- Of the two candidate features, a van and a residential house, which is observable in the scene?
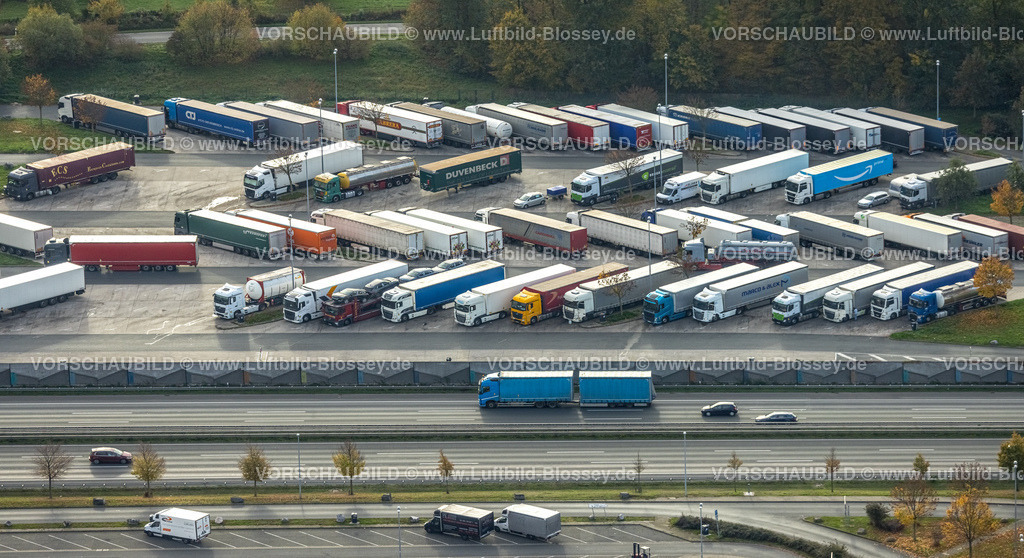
van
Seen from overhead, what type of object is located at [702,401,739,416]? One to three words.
car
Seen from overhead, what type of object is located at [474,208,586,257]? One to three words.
truck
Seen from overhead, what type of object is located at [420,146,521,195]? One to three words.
trailer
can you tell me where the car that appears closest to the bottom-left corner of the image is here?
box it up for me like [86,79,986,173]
[90,449,132,464]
